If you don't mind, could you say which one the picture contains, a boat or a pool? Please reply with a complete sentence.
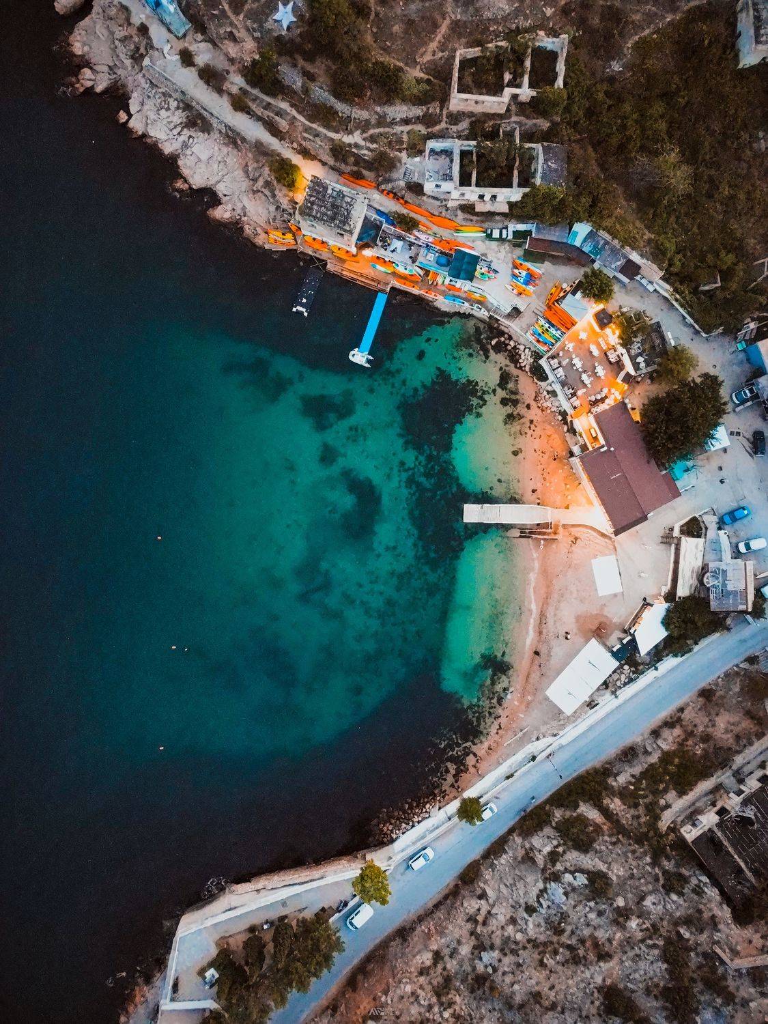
There is a boat in the scene.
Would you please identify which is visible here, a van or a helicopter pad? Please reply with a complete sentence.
This aerial view contains a van.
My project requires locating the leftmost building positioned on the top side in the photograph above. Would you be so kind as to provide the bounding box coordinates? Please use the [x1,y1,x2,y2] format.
[300,175,368,251]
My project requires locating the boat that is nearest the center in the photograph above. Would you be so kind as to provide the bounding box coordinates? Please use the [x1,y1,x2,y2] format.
[350,347,374,367]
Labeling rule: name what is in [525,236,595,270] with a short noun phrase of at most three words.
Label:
shed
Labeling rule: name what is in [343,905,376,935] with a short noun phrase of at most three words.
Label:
van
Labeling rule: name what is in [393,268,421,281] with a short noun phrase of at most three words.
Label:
boat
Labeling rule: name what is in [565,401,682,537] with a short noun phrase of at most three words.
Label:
house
